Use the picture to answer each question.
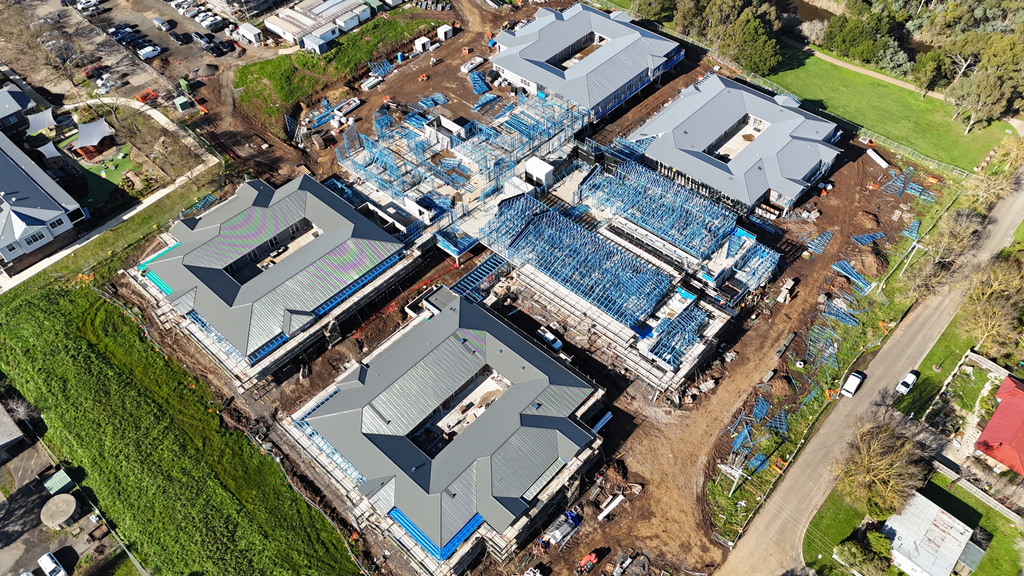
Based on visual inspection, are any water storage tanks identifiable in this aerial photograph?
Yes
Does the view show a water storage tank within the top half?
No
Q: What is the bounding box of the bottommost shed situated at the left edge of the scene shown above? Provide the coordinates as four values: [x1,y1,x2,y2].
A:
[41,468,77,496]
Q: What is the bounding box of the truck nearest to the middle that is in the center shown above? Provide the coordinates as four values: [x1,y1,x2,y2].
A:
[533,325,565,353]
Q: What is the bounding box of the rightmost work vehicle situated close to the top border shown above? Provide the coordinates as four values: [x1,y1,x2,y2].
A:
[502,10,517,28]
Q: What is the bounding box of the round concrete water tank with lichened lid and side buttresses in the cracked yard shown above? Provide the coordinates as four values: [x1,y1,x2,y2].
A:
[42,493,87,533]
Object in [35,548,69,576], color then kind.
white car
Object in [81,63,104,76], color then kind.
red vehicle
